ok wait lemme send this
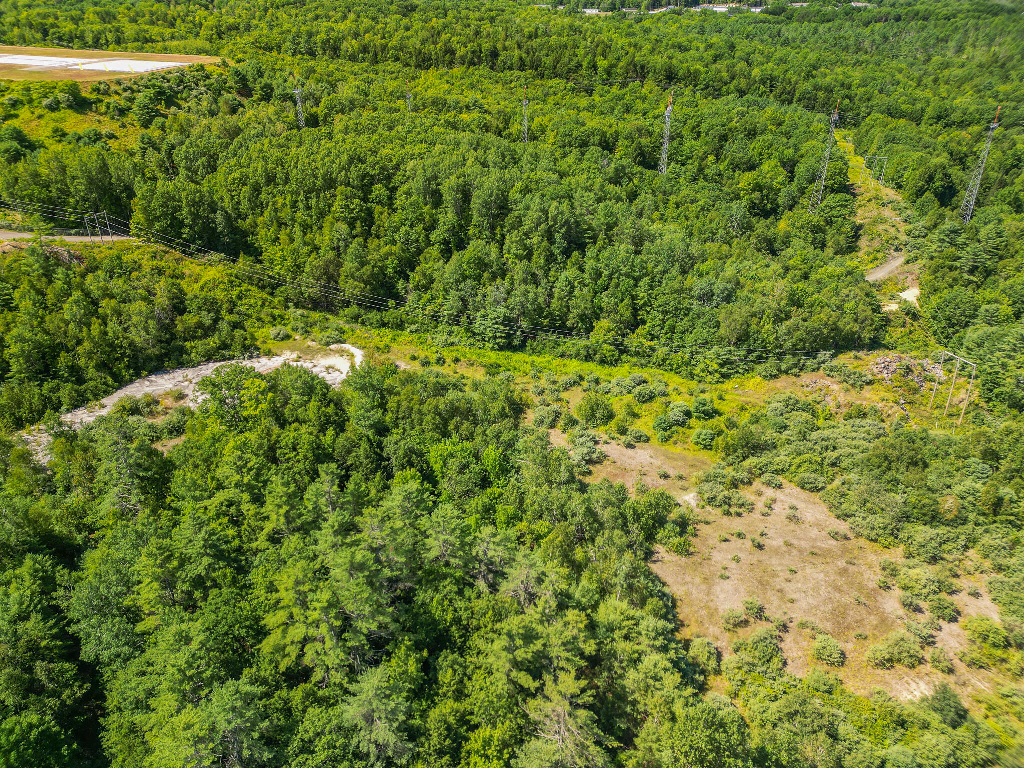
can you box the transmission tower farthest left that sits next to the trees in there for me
[81,210,114,246]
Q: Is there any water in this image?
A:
No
